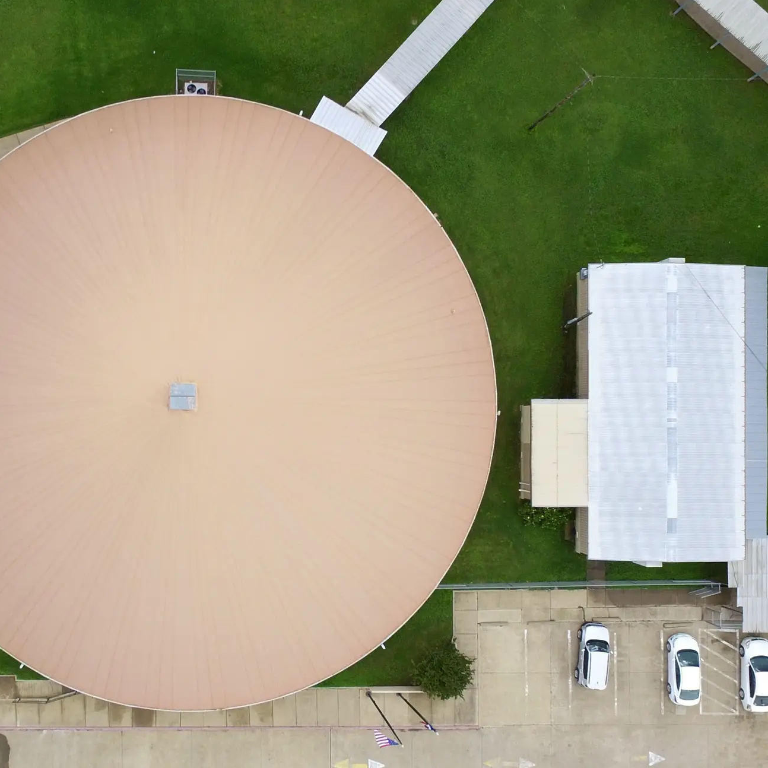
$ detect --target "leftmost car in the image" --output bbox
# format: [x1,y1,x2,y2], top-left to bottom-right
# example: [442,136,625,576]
[573,620,612,690]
